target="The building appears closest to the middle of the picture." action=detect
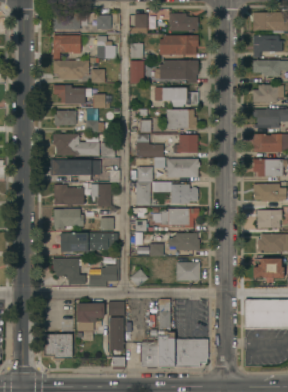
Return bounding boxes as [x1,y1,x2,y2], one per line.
[136,182,151,204]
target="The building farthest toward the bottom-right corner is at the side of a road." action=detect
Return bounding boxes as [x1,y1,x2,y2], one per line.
[246,299,288,329]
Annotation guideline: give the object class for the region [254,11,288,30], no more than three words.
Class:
house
